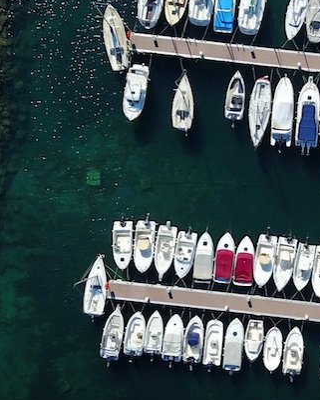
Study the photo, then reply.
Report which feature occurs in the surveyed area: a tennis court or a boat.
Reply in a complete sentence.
Visible in the photo is a boat.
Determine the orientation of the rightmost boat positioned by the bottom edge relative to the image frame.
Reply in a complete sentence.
The rightmost boat positioned by the bottom edge has been laid out vertically relative to the frame.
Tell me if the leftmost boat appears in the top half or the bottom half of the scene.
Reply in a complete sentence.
Seen from above, the leftmost boat lies in the bottom half of the view.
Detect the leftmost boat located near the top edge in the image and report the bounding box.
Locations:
[101,3,128,71]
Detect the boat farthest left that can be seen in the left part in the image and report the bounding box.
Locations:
[81,254,109,324]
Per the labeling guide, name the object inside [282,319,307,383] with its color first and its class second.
white boat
